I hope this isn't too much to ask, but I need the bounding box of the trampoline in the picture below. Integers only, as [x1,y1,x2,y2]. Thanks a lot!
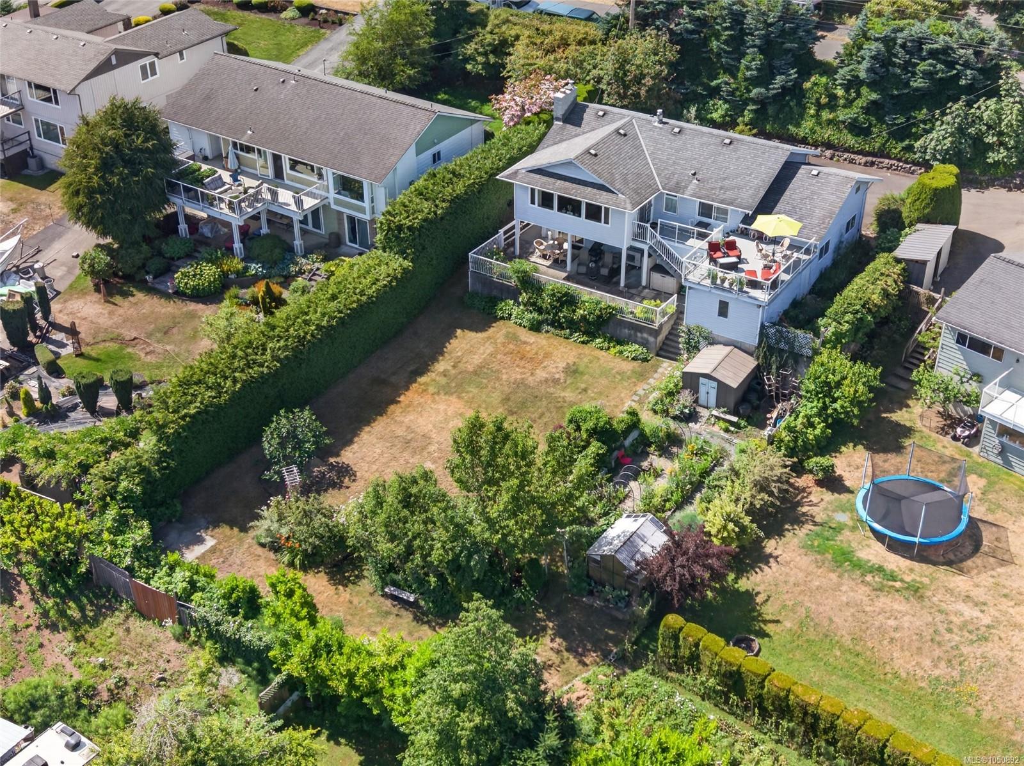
[848,441,979,564]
